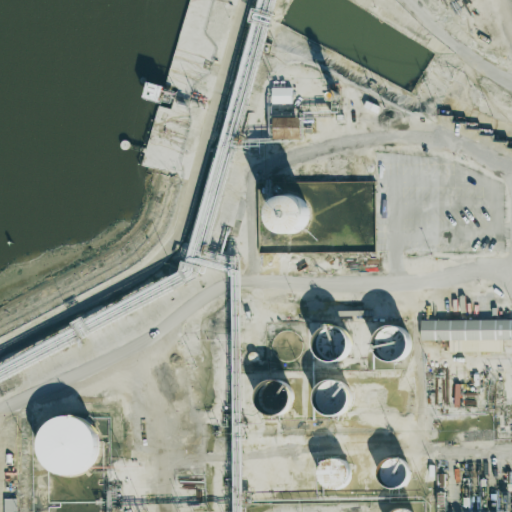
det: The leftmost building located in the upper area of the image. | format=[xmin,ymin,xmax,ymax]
[142,81,168,104]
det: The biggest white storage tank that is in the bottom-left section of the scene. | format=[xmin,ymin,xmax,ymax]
[34,414,102,479]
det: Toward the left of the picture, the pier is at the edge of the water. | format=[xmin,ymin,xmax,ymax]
[142,0,233,179]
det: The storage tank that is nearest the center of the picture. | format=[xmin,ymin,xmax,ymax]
[262,192,312,236]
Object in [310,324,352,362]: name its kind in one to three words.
storage tank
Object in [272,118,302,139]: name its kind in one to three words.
building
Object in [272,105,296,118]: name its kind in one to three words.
building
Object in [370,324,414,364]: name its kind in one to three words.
storage tank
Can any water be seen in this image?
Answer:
Yes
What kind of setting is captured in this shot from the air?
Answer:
industrial area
